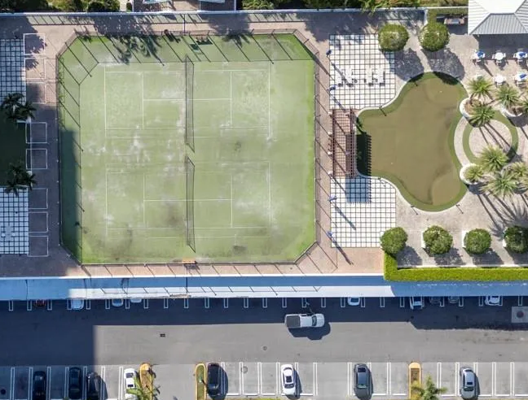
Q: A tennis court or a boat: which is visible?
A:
tennis court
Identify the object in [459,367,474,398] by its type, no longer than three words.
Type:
car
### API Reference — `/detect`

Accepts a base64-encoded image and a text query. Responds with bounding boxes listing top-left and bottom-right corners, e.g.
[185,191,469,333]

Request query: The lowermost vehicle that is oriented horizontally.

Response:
[284,313,324,329]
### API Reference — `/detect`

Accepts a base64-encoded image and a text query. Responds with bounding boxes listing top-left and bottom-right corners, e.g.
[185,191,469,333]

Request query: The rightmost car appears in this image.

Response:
[484,295,500,308]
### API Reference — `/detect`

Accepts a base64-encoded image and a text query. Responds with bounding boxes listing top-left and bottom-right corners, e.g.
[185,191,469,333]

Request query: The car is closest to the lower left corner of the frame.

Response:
[31,371,47,400]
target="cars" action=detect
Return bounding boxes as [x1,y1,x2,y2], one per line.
[344,297,360,308]
[355,365,370,397]
[484,295,500,308]
[281,365,296,396]
[459,367,474,398]
[446,296,460,306]
[86,371,101,400]
[31,371,47,400]
[130,298,143,306]
[427,296,441,306]
[111,298,124,309]
[123,368,137,400]
[32,299,47,309]
[408,296,424,311]
[207,365,222,396]
[68,299,83,311]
